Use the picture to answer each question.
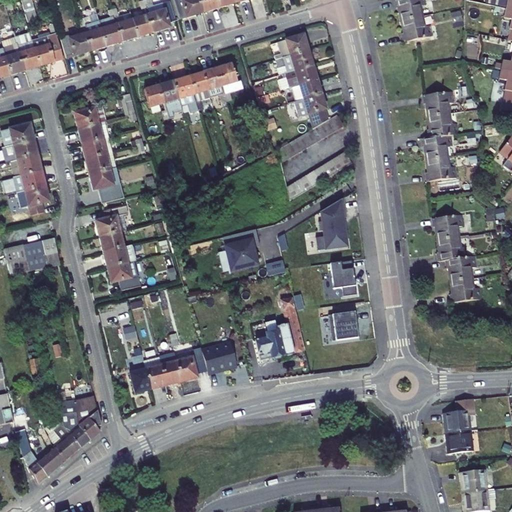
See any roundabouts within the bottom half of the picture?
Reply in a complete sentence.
Yes, within the bottom half of the picture there is a roundabout.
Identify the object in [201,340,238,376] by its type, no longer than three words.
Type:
house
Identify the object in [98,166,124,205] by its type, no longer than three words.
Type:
building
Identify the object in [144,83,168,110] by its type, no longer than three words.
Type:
house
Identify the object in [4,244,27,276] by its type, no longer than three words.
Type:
building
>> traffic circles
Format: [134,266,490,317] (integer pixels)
[365,350,441,423]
